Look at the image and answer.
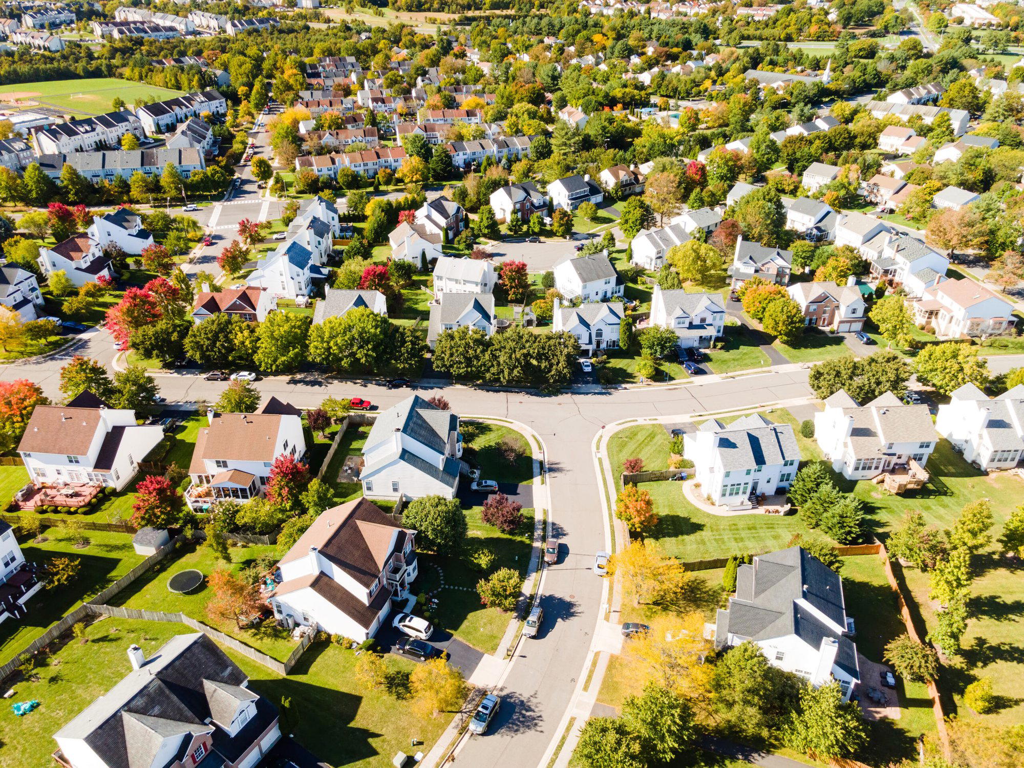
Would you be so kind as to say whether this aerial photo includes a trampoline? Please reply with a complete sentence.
Yes, a trampoline is visible in the scene.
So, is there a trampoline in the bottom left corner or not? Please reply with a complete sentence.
Yes, a trampoline appears in the bottom left corner.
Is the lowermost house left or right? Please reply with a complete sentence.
You can find the lowermost house on the left side of the picture.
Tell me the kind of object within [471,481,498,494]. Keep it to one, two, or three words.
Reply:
vehicle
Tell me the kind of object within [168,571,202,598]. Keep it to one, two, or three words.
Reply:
trampoline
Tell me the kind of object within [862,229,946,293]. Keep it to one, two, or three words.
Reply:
house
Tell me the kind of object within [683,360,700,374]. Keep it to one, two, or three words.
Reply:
car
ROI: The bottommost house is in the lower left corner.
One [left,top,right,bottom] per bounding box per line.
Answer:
[42,634,289,768]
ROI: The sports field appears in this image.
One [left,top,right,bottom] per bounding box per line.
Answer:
[0,80,186,124]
